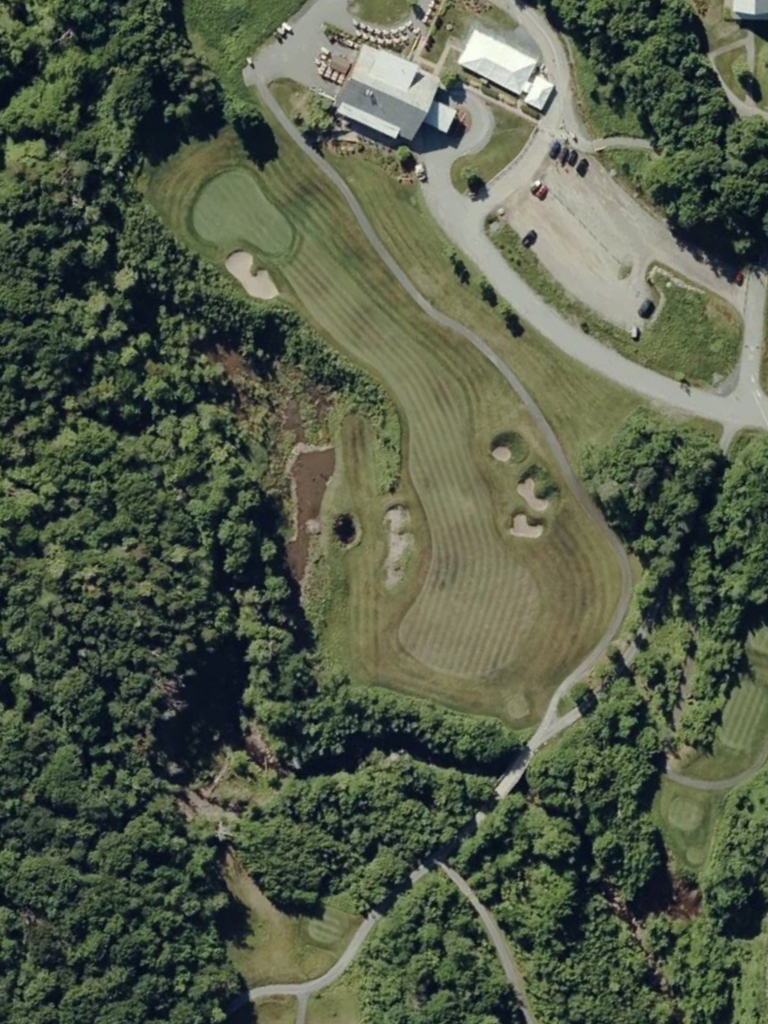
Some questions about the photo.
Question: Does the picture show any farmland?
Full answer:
No, there's no farmland in this view.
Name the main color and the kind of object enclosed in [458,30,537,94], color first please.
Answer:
white tent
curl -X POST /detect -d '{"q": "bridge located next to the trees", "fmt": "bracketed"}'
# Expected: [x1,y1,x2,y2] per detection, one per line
[494,747,534,801]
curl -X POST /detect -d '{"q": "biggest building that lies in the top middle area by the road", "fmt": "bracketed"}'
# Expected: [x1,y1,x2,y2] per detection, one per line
[336,45,457,141]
